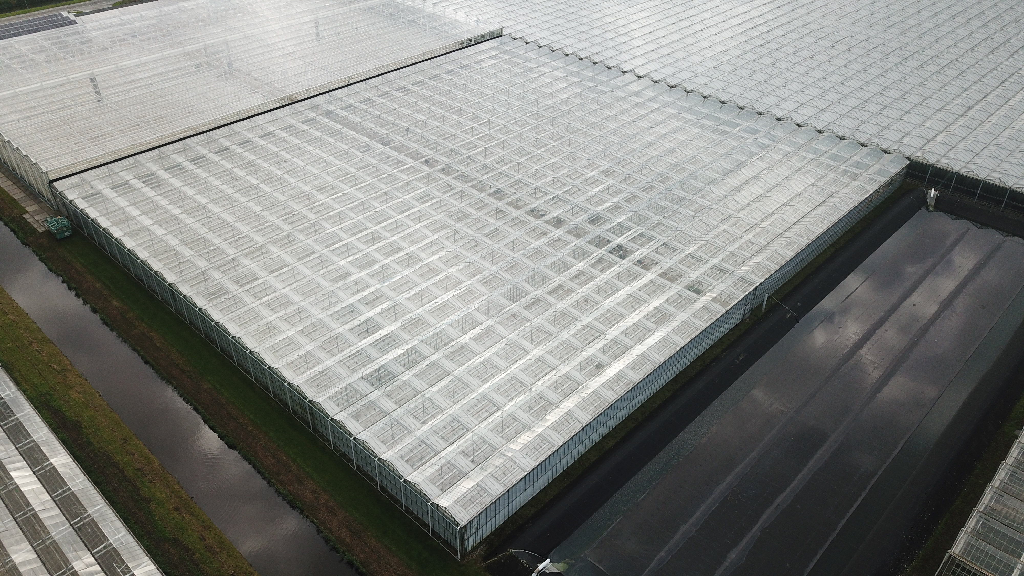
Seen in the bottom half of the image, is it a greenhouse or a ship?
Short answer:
greenhouse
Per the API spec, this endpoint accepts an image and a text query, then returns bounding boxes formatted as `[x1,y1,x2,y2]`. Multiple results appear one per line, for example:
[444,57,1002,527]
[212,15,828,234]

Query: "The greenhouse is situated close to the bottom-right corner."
[937,419,1024,576]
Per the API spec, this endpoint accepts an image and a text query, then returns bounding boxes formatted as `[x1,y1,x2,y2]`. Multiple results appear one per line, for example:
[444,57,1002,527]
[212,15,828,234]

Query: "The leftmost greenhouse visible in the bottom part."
[0,365,165,576]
